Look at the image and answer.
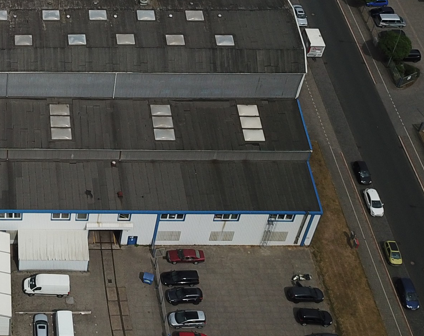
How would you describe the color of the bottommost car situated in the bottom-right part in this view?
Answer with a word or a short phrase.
black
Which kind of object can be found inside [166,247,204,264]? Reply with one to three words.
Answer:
car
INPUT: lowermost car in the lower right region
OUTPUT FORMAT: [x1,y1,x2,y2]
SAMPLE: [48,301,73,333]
[292,307,334,327]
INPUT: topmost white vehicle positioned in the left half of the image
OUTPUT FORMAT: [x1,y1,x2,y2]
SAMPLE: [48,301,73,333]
[23,267,72,293]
